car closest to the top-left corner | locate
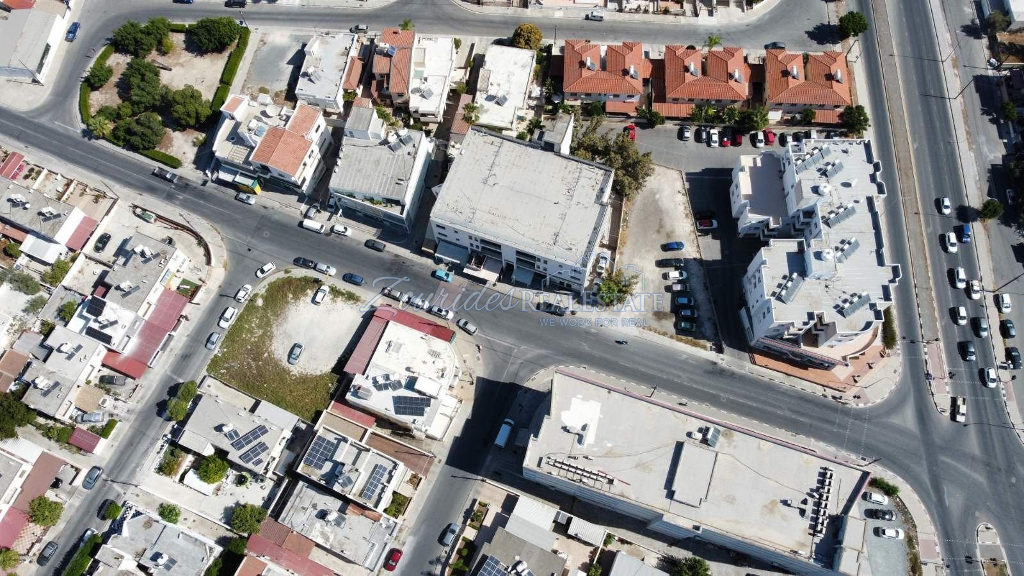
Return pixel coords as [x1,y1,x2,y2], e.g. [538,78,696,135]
[67,25,79,39]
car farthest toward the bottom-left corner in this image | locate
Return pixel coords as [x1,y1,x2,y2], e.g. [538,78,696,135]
[35,538,60,569]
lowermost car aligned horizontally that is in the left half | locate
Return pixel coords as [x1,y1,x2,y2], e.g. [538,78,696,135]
[75,411,103,424]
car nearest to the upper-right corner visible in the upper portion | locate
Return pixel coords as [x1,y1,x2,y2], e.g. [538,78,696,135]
[1003,187,1017,206]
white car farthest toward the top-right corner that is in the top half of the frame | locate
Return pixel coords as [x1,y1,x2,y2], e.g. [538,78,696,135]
[939,196,953,216]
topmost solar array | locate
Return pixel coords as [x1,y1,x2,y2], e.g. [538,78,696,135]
[86,295,107,316]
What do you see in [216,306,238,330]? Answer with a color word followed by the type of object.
white car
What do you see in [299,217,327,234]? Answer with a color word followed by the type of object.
white vehicle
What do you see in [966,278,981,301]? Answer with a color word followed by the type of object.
white car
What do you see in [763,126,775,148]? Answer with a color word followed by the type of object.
red vehicle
